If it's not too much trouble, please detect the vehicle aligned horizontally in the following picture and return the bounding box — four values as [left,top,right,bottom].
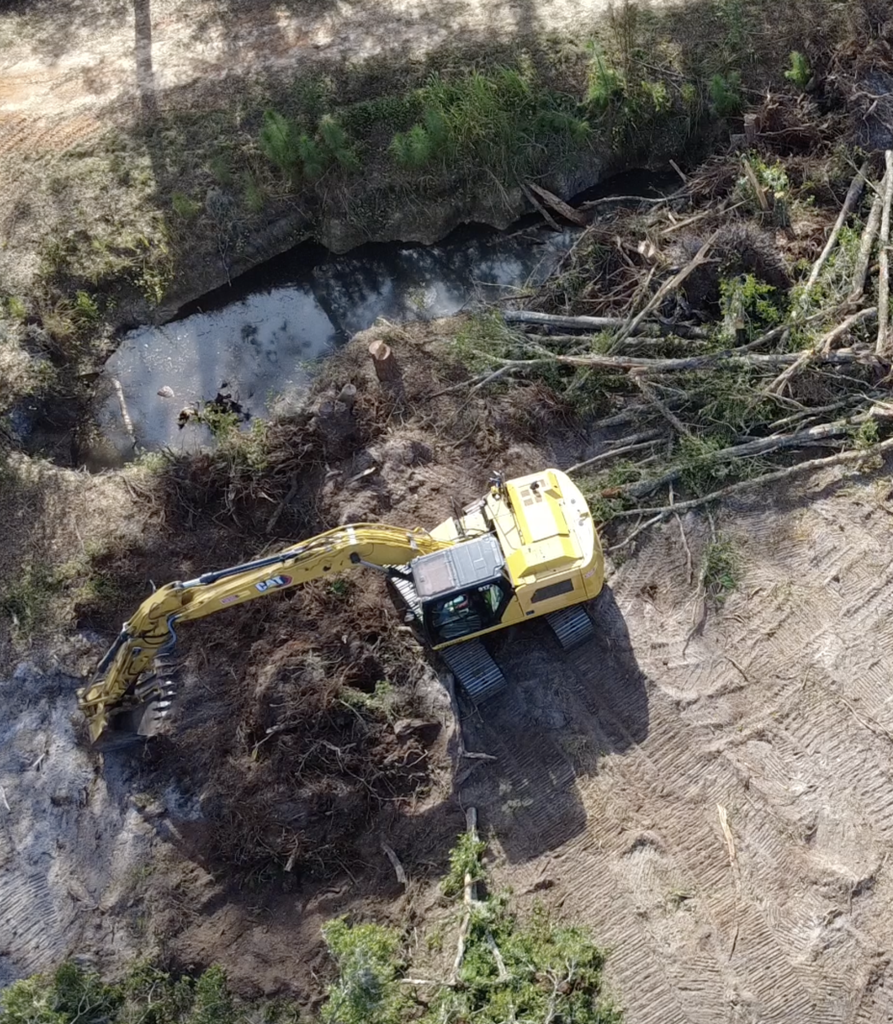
[68,470,604,753]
